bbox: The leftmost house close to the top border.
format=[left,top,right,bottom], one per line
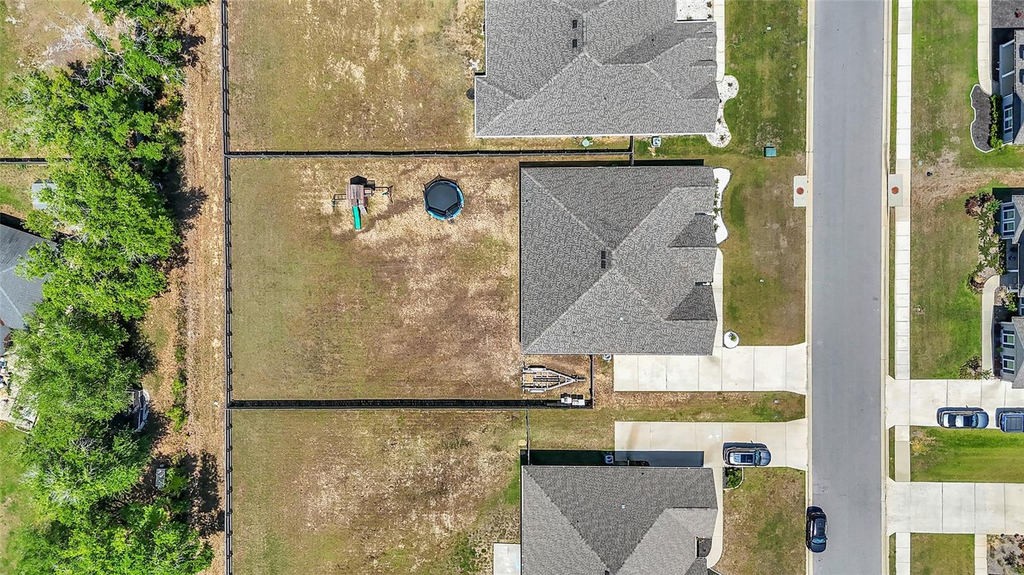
[474,0,719,137]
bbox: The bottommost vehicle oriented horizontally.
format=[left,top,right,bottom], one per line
[723,445,770,468]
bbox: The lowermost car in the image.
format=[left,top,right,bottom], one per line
[806,507,830,552]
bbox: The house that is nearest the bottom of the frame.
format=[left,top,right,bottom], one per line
[521,463,717,575]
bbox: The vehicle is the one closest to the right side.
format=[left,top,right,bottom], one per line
[995,410,1024,431]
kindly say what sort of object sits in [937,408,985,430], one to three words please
car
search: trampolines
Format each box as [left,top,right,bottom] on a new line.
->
[423,177,464,224]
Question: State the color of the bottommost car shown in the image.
black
